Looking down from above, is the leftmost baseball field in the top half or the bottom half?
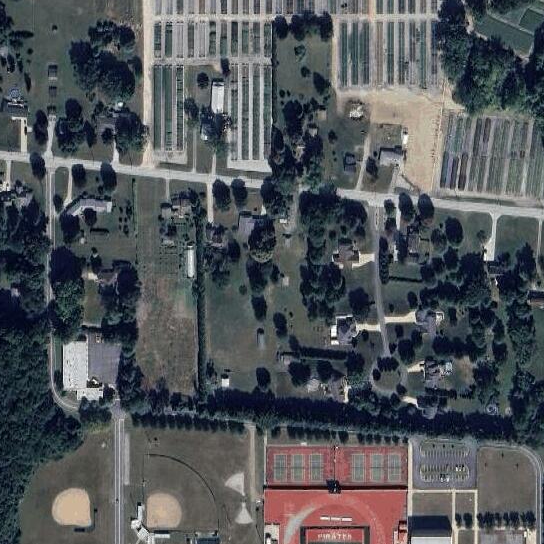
bottom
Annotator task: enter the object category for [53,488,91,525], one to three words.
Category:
baseball field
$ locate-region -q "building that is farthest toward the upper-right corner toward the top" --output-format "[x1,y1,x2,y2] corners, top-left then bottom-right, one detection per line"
[379,149,403,165]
